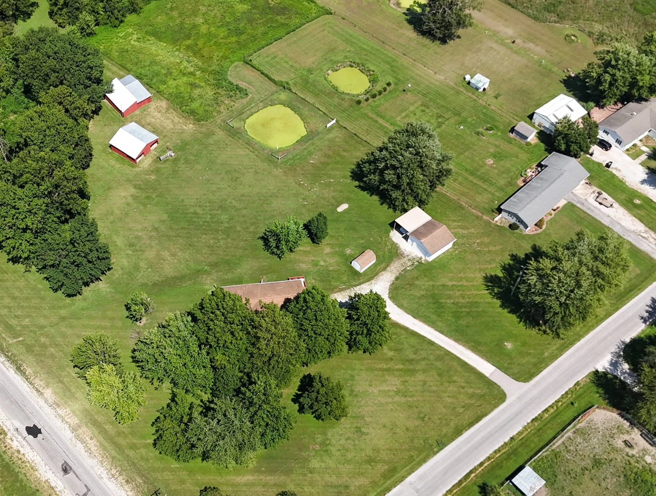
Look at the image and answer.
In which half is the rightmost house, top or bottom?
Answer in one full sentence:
The rightmost house is in the top half of the image.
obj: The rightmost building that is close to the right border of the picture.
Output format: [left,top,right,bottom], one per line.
[595,99,656,152]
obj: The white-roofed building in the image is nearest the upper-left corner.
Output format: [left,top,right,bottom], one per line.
[104,78,156,118]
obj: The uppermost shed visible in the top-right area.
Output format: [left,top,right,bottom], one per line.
[469,77,494,96]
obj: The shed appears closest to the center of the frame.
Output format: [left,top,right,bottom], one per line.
[350,247,377,272]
